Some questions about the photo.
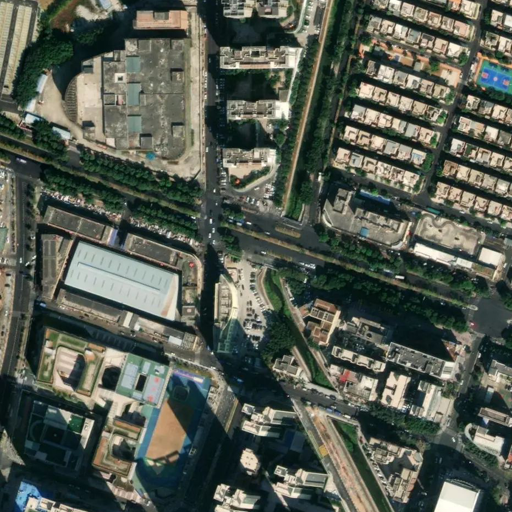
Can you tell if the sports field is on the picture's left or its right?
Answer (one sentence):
The sports field is on the left side of the image.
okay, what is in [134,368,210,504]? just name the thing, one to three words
sports field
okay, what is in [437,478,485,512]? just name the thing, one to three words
building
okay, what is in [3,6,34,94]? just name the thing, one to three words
shed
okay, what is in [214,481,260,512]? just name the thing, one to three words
building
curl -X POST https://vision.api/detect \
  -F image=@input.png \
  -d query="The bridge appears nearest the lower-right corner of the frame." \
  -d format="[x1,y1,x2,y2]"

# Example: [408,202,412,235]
[304,375,352,417]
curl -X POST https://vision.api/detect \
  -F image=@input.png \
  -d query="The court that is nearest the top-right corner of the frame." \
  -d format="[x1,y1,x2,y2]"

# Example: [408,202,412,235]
[473,61,512,97]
